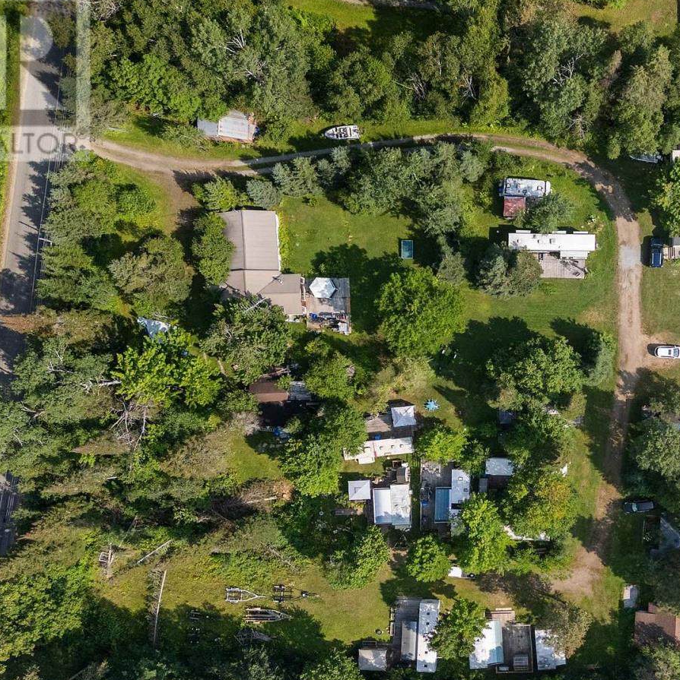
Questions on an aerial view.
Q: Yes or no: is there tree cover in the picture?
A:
Yes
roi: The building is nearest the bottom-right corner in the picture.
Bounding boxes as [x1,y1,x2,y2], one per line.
[635,602,680,644]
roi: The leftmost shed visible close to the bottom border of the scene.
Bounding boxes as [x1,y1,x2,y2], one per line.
[358,647,386,670]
